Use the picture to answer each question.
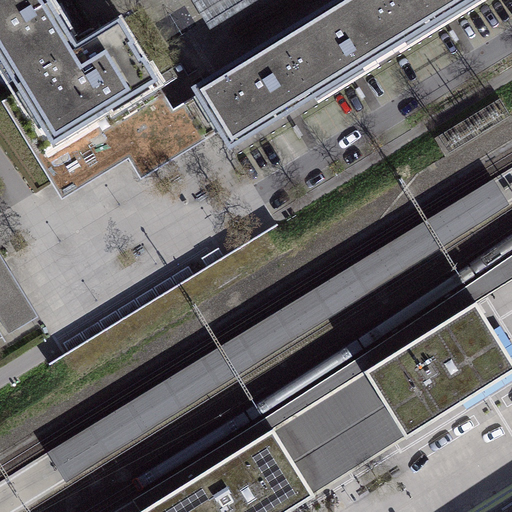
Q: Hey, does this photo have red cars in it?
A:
Yes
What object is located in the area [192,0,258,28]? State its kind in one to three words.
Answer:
building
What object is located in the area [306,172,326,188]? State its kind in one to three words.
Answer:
car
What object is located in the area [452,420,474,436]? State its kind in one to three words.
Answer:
car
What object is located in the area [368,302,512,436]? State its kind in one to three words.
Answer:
building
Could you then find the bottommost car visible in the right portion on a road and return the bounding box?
[408,455,430,472]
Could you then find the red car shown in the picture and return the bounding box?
[336,94,352,116]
